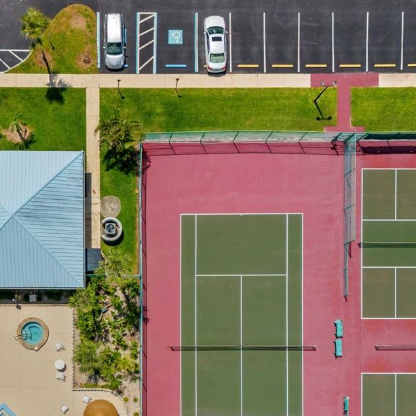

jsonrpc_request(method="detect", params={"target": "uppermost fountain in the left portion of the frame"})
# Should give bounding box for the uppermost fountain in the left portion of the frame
[101,218,123,241]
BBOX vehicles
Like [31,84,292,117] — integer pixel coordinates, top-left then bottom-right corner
[205,16,230,73]
[102,12,127,70]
